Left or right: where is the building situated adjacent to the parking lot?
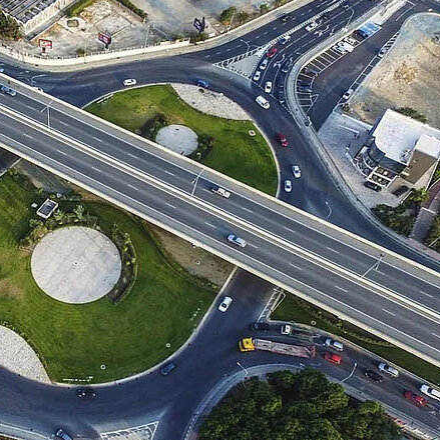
right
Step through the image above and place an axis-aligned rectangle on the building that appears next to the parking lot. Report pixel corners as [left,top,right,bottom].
[360,108,440,186]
